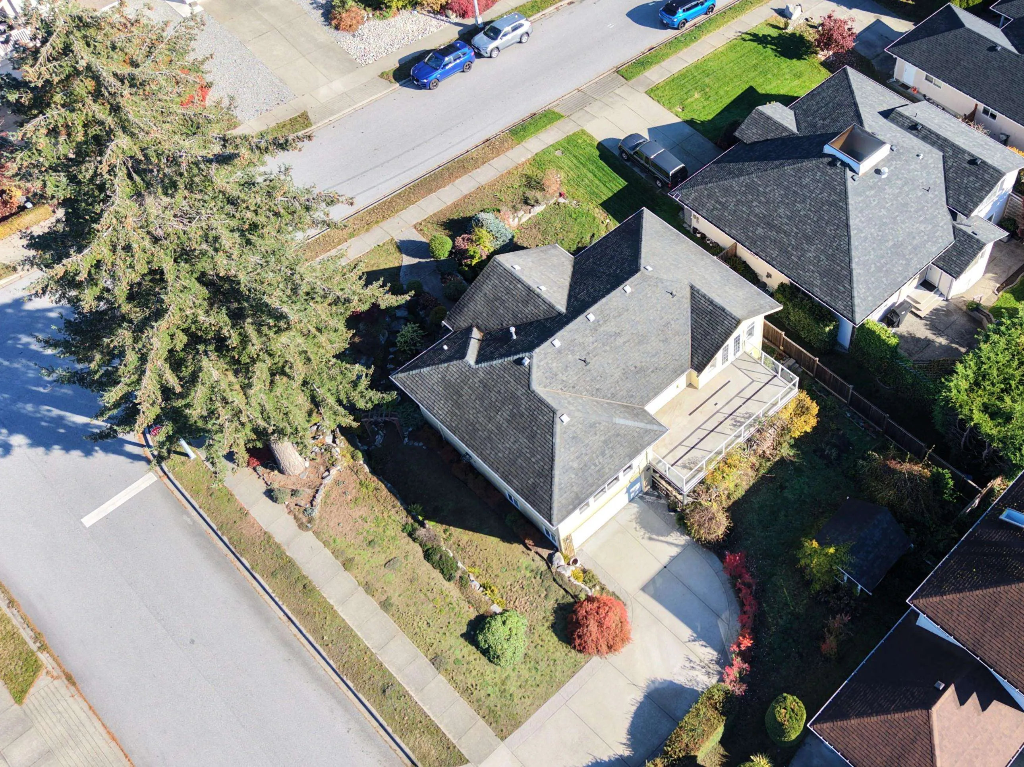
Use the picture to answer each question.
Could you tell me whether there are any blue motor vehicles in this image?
Yes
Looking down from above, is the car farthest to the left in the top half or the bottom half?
top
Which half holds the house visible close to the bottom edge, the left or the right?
right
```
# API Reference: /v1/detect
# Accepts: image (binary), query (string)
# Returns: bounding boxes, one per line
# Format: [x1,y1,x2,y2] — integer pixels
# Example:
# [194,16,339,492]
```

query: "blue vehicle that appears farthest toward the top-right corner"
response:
[658,0,717,30]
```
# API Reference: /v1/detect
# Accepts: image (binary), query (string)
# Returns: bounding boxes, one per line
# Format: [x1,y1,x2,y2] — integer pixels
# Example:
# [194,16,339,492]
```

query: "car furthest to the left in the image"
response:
[407,41,475,90]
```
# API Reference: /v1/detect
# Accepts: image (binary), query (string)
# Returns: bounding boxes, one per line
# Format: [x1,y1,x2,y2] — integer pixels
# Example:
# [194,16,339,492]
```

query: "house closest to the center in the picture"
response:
[390,207,783,554]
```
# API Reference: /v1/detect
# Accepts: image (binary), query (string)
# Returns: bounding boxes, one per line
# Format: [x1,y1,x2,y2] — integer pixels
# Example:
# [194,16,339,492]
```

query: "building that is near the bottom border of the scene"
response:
[807,472,1024,767]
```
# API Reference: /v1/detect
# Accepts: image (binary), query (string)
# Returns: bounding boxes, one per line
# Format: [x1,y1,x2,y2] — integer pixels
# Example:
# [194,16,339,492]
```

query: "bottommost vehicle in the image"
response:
[617,133,688,187]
